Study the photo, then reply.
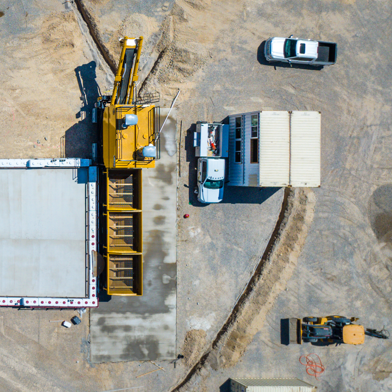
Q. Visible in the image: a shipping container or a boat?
shipping container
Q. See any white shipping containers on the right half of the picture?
Yes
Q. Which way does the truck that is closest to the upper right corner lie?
from side to side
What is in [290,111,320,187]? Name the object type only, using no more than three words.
shipping container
